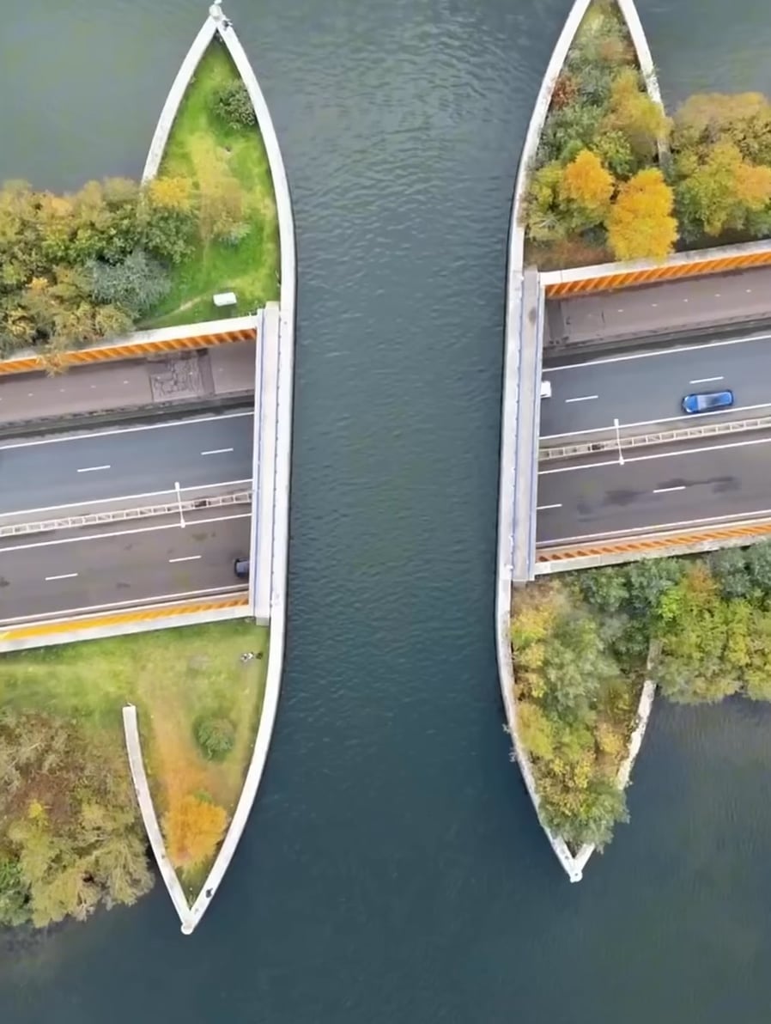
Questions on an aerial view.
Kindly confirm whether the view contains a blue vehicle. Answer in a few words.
Yes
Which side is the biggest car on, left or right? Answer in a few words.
right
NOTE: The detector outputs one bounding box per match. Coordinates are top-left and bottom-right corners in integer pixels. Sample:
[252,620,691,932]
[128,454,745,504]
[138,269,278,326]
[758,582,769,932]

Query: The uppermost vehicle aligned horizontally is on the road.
[682,389,733,414]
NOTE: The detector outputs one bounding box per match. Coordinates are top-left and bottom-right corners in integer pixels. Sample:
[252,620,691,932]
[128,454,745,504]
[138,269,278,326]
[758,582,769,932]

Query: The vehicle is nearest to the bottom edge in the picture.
[235,558,251,578]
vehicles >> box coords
[541,379,551,400]
[682,389,733,414]
[235,558,251,578]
